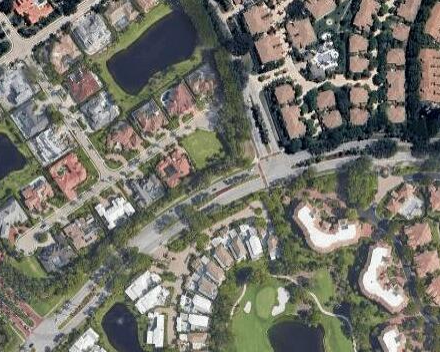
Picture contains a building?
Yes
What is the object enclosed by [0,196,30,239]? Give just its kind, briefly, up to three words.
house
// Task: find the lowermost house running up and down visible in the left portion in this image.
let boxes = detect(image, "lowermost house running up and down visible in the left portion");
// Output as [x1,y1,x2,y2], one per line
[147,308,165,347]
